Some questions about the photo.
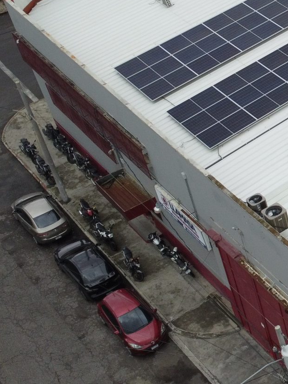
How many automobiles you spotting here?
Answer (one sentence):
The photo contains 3 automobiles.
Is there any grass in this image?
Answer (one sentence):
No, no grass is visible.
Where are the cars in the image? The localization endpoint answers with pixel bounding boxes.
[52,236,132,305]
[3,188,78,250]
[94,286,177,363]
